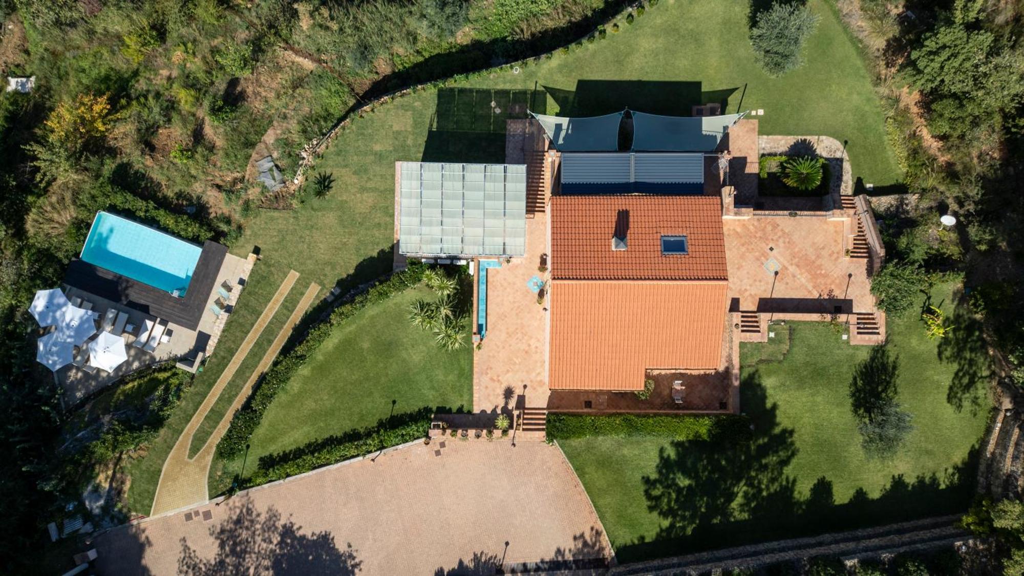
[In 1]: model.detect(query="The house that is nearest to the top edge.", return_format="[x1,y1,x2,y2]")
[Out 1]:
[543,193,728,391]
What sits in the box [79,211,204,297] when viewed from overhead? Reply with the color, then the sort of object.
blue swimming pool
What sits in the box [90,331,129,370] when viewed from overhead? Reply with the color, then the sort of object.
white umbrella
